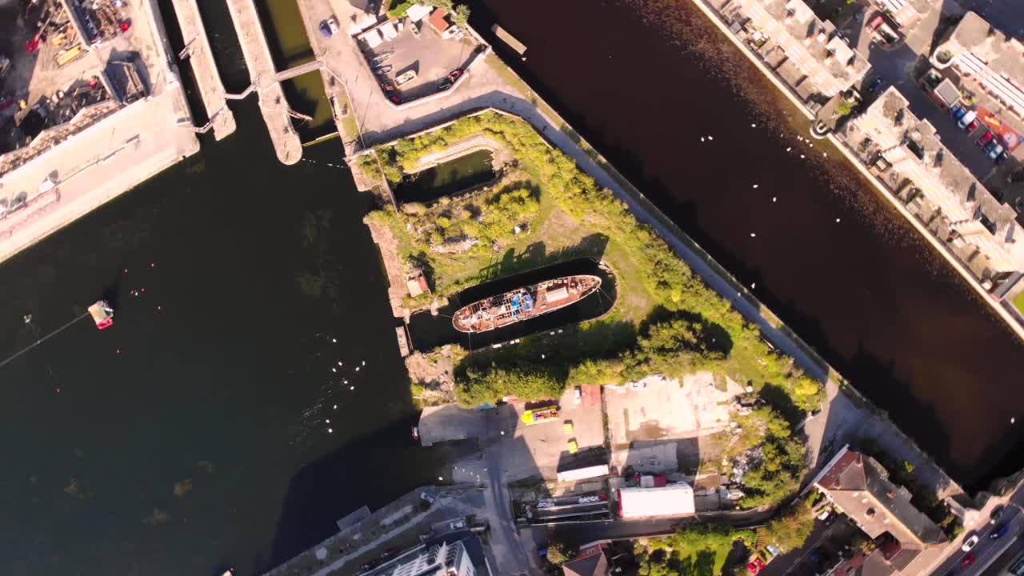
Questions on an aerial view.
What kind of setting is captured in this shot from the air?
port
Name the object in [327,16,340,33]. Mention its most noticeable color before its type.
white vehicle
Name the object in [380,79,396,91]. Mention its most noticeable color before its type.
red vehicle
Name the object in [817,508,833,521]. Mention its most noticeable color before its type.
white vehicle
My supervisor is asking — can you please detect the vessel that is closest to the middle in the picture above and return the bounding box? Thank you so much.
[452,279,605,330]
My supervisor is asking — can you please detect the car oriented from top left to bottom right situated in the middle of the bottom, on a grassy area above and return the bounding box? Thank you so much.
[420,492,435,505]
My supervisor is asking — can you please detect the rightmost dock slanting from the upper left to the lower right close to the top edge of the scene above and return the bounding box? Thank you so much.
[493,27,526,57]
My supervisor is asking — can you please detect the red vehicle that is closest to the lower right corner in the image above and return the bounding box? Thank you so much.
[961,552,977,567]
